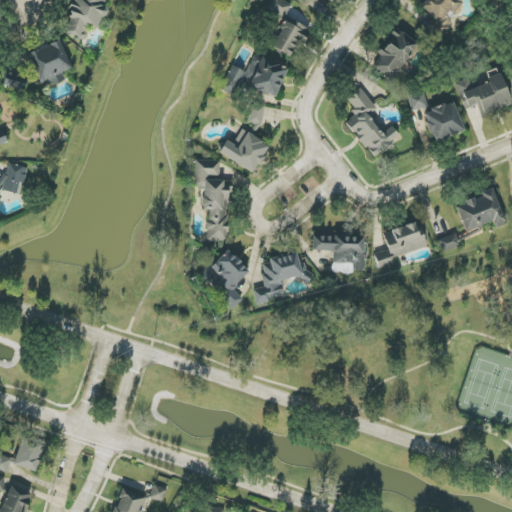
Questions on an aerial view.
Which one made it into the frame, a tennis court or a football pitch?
tennis court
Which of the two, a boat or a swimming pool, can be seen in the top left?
swimming pool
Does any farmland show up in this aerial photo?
No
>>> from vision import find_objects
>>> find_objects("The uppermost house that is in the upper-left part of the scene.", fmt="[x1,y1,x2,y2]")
[68,0,108,38]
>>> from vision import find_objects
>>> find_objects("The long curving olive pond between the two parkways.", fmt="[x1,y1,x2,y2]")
[159,398,512,512]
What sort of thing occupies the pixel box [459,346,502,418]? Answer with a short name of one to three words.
tennis court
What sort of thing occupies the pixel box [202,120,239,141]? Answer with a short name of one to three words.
swimming pool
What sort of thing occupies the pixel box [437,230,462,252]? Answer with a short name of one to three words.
building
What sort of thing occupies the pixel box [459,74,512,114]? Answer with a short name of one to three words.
house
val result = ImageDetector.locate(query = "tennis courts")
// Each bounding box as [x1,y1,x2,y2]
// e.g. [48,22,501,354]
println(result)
[459,346,502,418]
[484,354,512,427]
